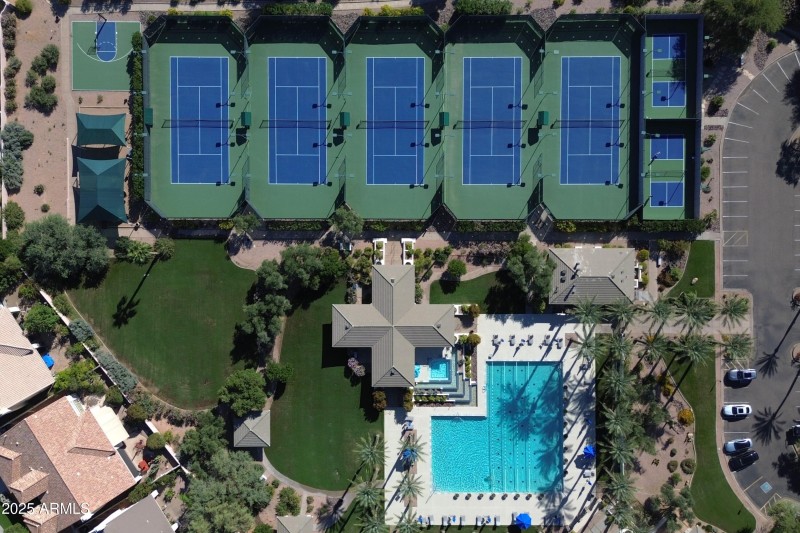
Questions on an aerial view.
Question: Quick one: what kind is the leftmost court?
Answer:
basketball court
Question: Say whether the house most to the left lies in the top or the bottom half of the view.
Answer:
bottom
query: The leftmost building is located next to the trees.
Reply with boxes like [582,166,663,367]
[0,305,59,416]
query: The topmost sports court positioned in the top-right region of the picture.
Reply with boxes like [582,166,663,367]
[648,21,697,115]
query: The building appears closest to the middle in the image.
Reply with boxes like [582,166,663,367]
[332,263,455,388]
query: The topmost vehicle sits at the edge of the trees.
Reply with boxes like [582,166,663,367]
[727,368,757,381]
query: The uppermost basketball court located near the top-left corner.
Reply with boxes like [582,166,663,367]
[70,20,141,91]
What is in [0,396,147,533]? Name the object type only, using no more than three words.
house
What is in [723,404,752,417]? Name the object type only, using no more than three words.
vehicle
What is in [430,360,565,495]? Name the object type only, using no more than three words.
swimming pool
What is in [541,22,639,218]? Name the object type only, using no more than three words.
tennis court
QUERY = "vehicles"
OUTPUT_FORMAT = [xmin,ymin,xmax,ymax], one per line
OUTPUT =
[727,368,757,381]
[724,438,752,453]
[788,425,800,436]
[723,404,752,417]
[730,451,758,468]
